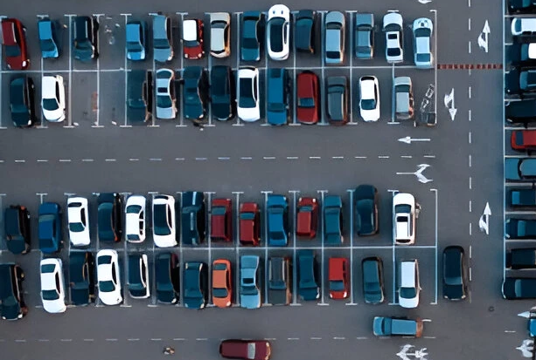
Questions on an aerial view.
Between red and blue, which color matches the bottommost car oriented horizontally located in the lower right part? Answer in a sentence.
The bottommost car oriented horizontally located in the lower right part looks blue in the image.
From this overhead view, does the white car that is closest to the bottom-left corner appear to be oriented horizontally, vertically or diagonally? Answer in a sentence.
In this picture, the white car that is closest to the bottom-left corner lies vertically.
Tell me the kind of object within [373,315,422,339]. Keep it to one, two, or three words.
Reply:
car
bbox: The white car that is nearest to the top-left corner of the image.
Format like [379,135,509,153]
[39,75,65,122]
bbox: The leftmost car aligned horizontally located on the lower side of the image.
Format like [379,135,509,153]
[220,339,272,360]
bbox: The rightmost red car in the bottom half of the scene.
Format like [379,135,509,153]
[326,258,348,299]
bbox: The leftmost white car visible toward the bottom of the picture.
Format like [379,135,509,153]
[36,258,66,313]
